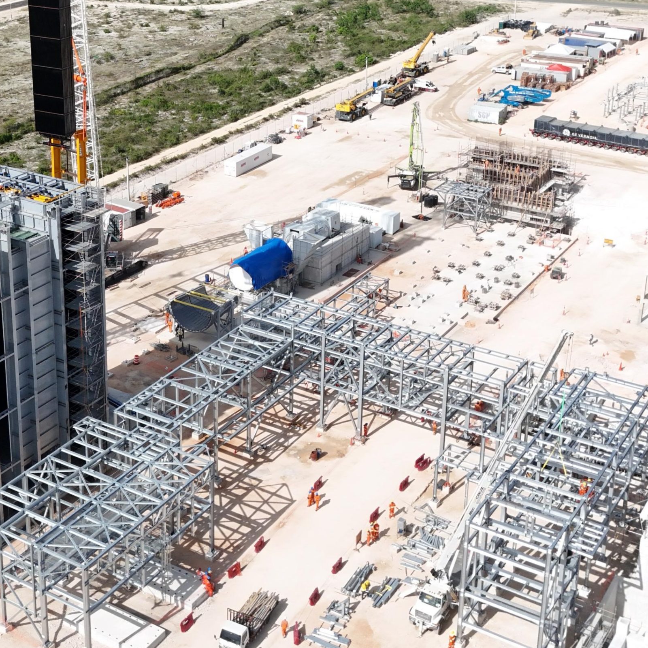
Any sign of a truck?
Yes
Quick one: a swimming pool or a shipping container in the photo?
shipping container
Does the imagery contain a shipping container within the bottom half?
No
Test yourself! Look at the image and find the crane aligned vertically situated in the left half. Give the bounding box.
[73,0,152,293]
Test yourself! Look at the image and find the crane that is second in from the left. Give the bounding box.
[337,77,370,117]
